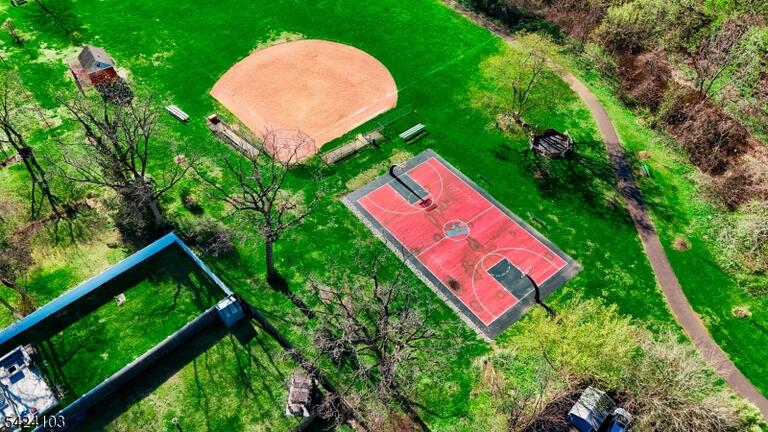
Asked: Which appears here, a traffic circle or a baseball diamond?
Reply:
baseball diamond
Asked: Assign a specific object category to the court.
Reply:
basketball court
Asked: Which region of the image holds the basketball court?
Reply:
center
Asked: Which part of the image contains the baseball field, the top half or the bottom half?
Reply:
top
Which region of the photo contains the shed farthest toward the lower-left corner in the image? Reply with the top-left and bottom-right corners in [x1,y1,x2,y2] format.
[214,291,246,326]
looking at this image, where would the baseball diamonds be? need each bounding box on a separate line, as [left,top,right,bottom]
[196,39,488,165]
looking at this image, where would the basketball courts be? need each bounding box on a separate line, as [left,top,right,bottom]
[343,150,582,342]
